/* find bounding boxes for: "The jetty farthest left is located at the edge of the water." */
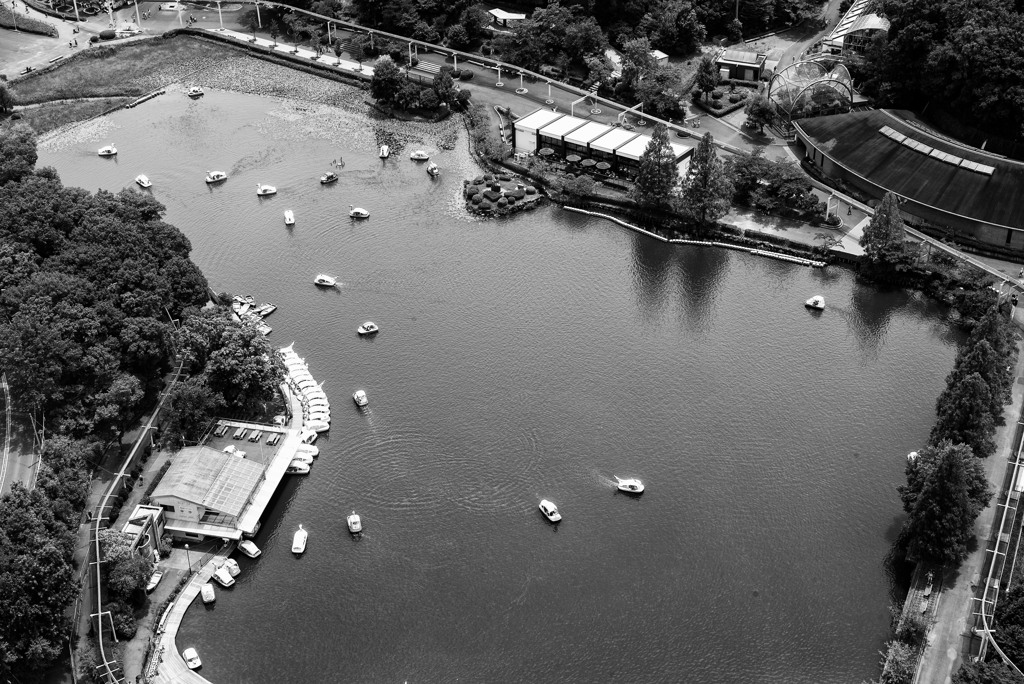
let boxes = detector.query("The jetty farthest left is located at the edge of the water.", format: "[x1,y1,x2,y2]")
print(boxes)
[151,546,247,684]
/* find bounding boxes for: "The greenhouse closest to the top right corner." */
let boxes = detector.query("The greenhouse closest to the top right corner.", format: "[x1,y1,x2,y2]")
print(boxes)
[845,15,902,65]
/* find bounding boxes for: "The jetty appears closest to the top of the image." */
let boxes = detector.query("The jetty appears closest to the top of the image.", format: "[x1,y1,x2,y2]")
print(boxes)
[280,378,302,434]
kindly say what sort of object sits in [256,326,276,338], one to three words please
boat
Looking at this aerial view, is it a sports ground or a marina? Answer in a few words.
marina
